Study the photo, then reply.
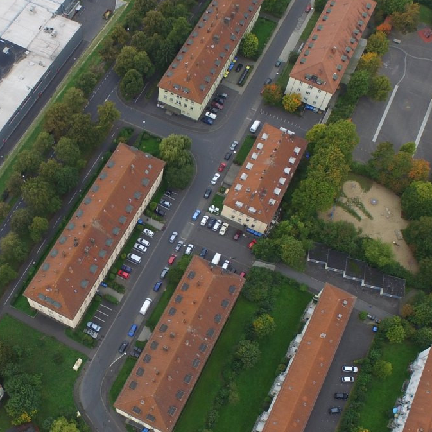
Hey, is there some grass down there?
Yes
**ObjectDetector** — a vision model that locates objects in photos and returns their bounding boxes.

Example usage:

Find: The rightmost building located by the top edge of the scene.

[286,0,377,110]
